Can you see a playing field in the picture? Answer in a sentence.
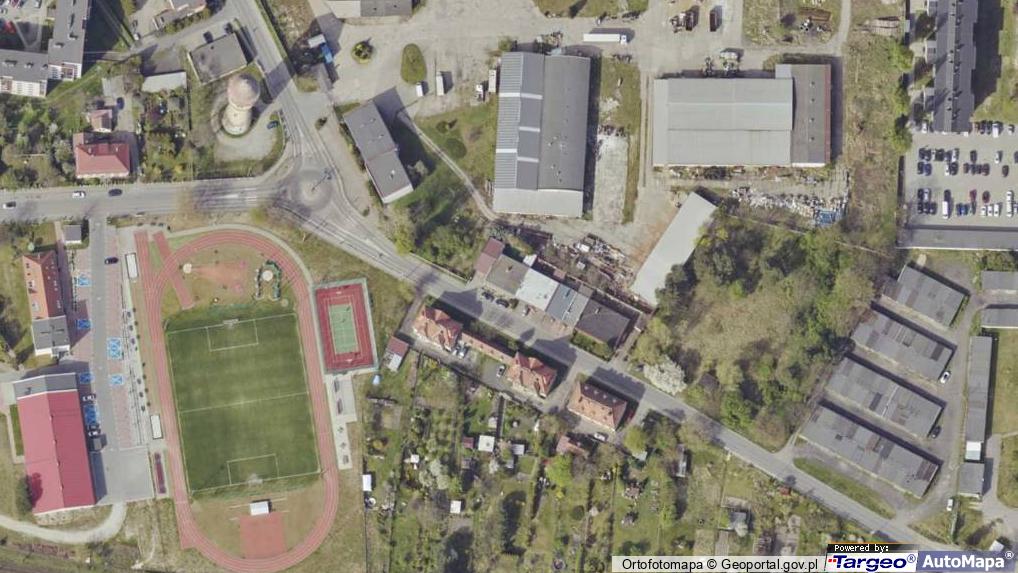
Yes, the picture does show a playing field.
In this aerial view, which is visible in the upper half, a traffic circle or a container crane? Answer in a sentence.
The feature located in the upper half is a traffic circle.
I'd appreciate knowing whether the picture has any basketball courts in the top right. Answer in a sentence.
No, there is no basketball court in the top right.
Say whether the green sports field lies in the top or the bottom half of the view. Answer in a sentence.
The bottom half of the photo is where the green sports field is.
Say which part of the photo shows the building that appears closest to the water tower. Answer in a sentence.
The building that appears closest to the water tower is located in the top left region of the scene.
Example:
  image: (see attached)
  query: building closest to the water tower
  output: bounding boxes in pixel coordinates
[189,33,247,87]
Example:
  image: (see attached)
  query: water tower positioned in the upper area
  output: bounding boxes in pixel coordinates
[219,75,259,139]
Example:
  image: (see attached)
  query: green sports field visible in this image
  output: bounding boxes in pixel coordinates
[166,299,322,499]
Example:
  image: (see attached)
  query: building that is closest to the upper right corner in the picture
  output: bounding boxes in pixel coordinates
[921,0,978,141]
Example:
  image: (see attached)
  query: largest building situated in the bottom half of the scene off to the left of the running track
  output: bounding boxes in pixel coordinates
[18,389,95,517]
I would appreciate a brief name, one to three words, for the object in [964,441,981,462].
shed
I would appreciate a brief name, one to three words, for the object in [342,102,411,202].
building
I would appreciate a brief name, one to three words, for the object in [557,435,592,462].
house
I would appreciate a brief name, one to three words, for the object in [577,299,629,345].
house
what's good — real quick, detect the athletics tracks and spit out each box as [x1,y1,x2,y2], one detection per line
[134,231,340,573]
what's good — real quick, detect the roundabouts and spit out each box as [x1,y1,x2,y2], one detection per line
[279,159,345,221]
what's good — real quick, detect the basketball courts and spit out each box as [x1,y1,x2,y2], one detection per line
[313,279,379,376]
